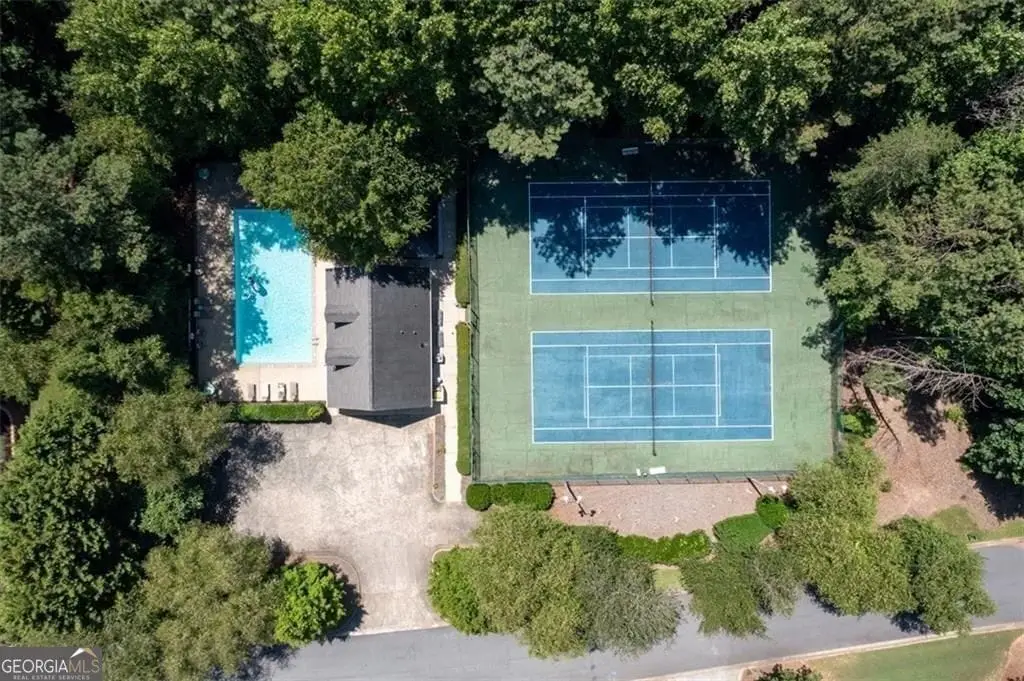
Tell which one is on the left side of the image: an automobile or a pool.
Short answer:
pool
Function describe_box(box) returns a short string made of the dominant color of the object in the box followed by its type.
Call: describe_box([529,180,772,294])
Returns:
blue tennis court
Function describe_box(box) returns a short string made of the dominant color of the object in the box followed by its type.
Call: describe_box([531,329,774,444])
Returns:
blue tennis court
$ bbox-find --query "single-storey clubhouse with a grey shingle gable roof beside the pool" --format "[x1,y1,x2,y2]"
[324,264,433,410]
